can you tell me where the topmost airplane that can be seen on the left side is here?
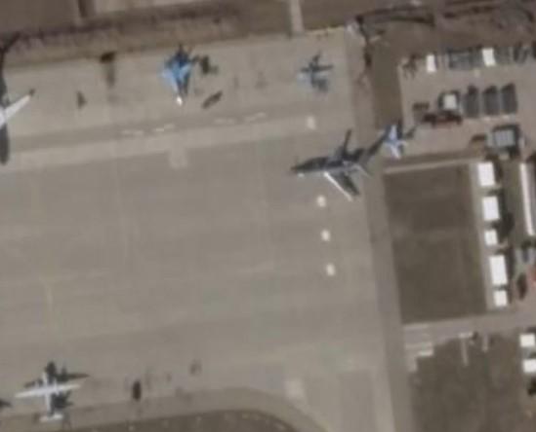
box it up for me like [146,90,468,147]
[160,53,191,106]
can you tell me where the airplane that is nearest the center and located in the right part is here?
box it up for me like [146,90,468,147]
[292,131,370,202]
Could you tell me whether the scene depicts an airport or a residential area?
airport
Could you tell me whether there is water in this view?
No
